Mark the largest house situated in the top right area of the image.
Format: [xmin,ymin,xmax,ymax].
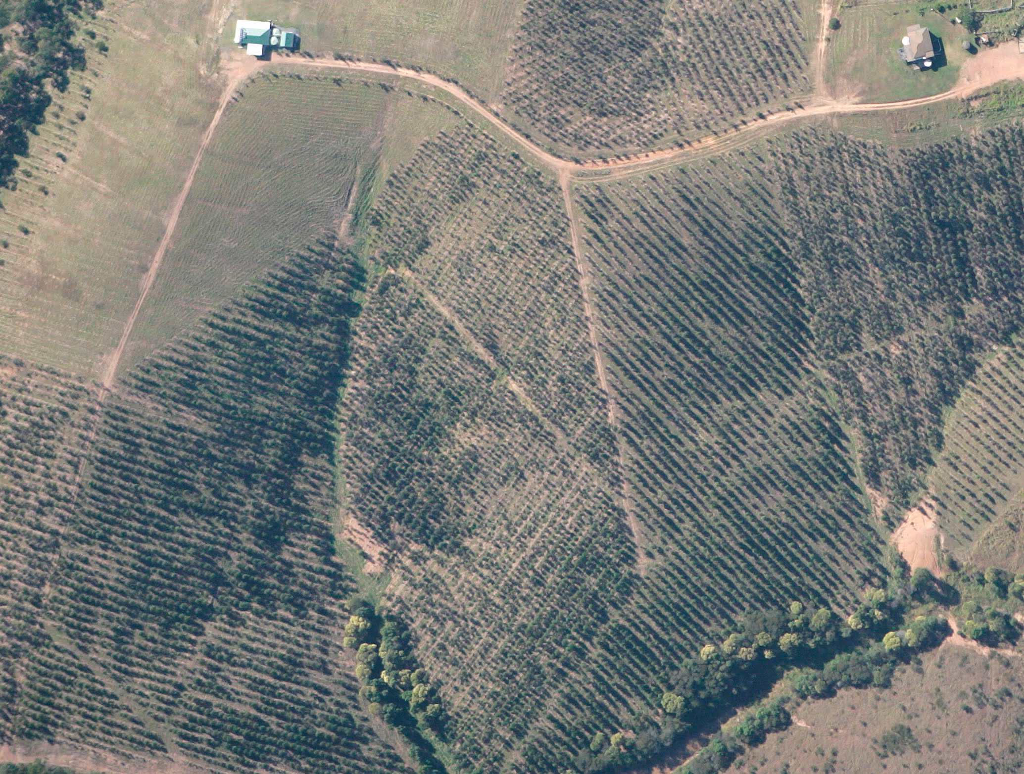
[904,24,934,68]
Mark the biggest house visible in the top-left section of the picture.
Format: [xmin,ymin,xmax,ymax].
[235,20,271,45]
